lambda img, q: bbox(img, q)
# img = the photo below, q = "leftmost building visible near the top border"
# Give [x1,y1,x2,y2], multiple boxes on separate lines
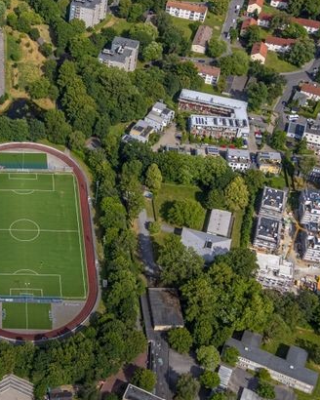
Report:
[69,0,107,34]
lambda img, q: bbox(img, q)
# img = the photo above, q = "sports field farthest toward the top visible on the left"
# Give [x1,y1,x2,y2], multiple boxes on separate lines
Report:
[0,153,47,168]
